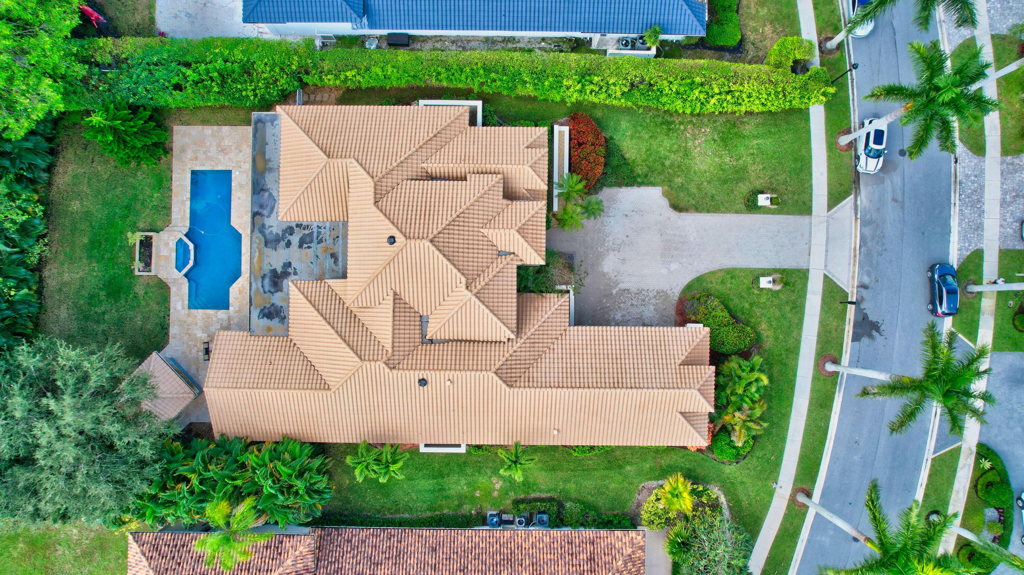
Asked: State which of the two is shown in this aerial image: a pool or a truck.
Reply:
pool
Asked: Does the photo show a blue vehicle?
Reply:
Yes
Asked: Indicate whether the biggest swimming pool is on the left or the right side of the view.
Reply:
left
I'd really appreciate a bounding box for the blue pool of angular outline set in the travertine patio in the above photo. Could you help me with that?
[184,170,242,310]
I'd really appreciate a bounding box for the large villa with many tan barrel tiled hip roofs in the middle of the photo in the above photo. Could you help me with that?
[202,103,718,448]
